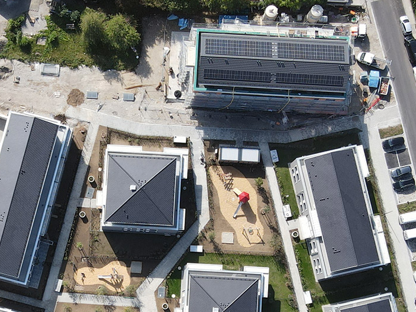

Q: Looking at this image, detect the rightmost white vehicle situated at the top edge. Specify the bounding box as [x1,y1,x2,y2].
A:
[397,16,412,38]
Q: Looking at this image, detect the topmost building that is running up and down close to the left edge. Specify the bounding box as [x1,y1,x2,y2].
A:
[0,111,75,285]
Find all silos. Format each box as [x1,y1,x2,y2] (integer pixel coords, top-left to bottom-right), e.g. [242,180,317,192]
[302,4,322,26]
[258,3,277,23]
